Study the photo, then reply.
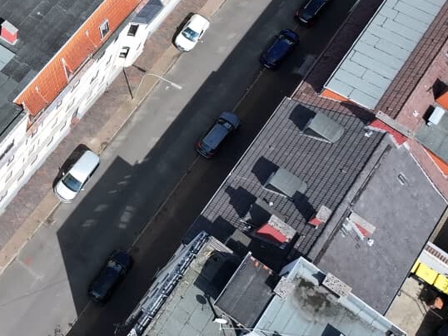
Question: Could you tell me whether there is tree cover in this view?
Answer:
No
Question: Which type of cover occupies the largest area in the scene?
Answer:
buildings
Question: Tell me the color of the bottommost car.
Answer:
black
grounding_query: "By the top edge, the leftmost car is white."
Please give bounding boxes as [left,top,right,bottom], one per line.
[170,12,213,57]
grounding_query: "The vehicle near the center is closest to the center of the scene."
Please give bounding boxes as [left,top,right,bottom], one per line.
[190,110,241,166]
